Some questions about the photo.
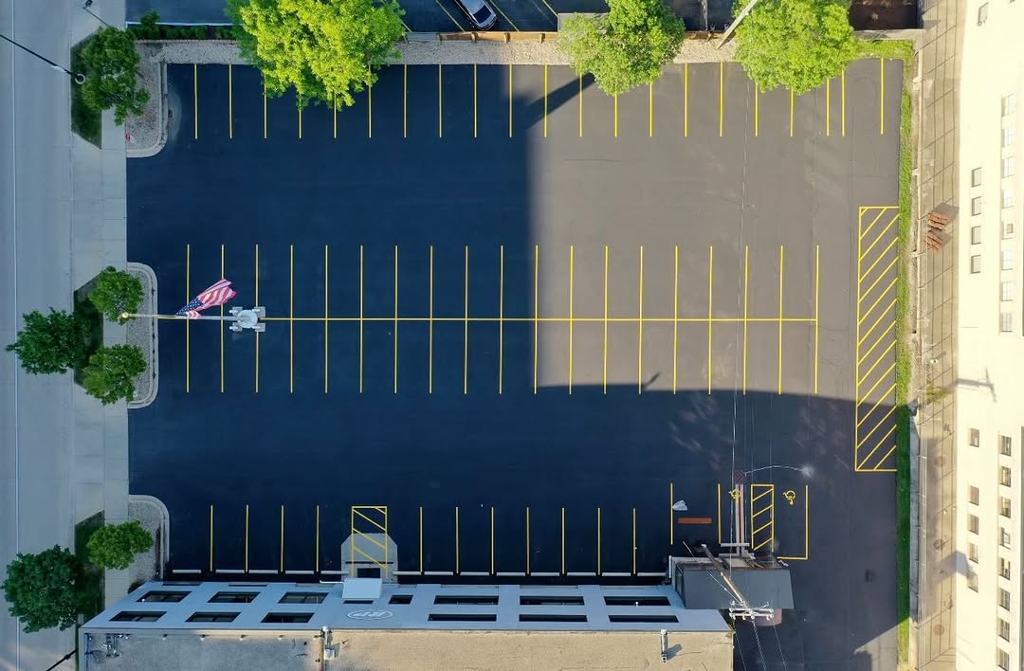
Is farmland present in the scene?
No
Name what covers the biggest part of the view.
paved ground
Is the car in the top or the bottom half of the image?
top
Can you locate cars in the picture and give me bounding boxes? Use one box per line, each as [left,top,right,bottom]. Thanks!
[456,0,497,27]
